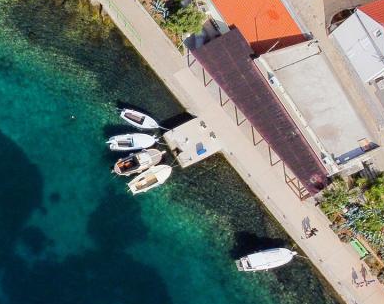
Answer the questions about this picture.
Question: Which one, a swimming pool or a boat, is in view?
boat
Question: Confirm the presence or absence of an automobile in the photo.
No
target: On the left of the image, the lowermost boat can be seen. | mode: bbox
[126,165,172,196]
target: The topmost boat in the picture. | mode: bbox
[118,110,160,128]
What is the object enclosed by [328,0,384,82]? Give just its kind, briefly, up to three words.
house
